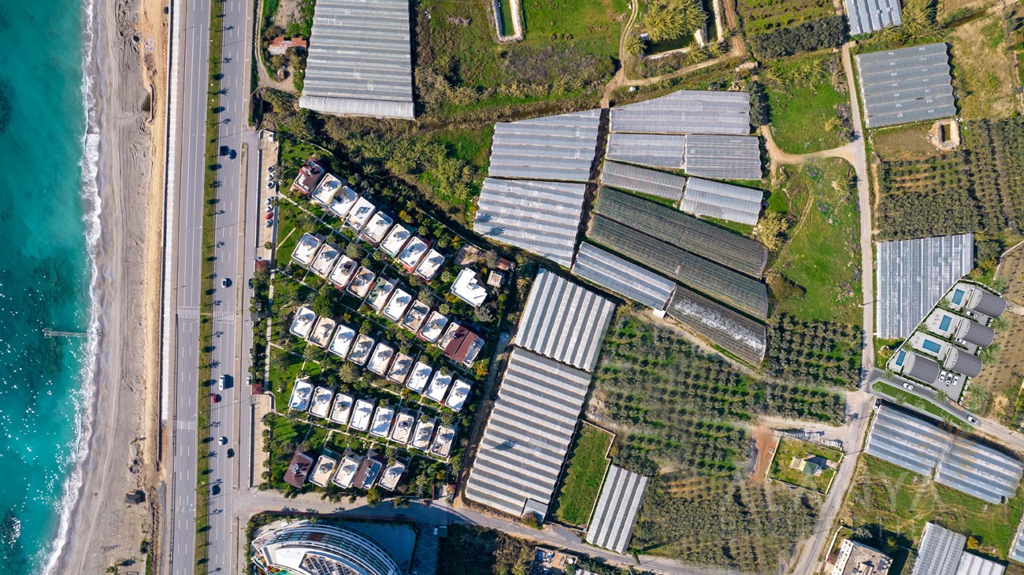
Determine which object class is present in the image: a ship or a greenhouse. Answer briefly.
greenhouse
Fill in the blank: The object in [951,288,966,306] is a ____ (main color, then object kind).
blue swimming pool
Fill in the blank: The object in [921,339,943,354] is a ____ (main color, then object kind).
blue swimming pool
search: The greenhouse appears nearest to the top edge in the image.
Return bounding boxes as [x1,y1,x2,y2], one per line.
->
[844,0,902,37]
